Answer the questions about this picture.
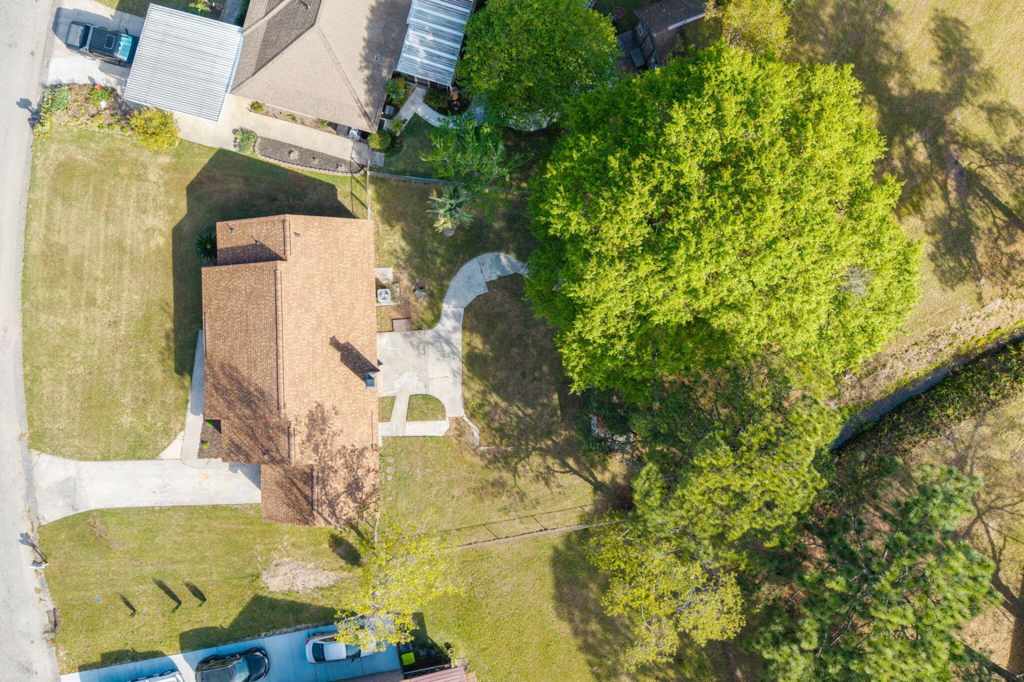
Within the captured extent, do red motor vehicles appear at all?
No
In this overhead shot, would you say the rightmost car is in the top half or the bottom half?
bottom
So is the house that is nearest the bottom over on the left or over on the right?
left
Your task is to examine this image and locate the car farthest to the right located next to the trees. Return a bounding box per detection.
[302,628,375,665]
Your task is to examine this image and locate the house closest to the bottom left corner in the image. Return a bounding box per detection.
[200,216,388,531]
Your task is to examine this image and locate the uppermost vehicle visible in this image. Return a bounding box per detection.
[48,12,139,66]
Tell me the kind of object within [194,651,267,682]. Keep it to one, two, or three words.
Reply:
car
